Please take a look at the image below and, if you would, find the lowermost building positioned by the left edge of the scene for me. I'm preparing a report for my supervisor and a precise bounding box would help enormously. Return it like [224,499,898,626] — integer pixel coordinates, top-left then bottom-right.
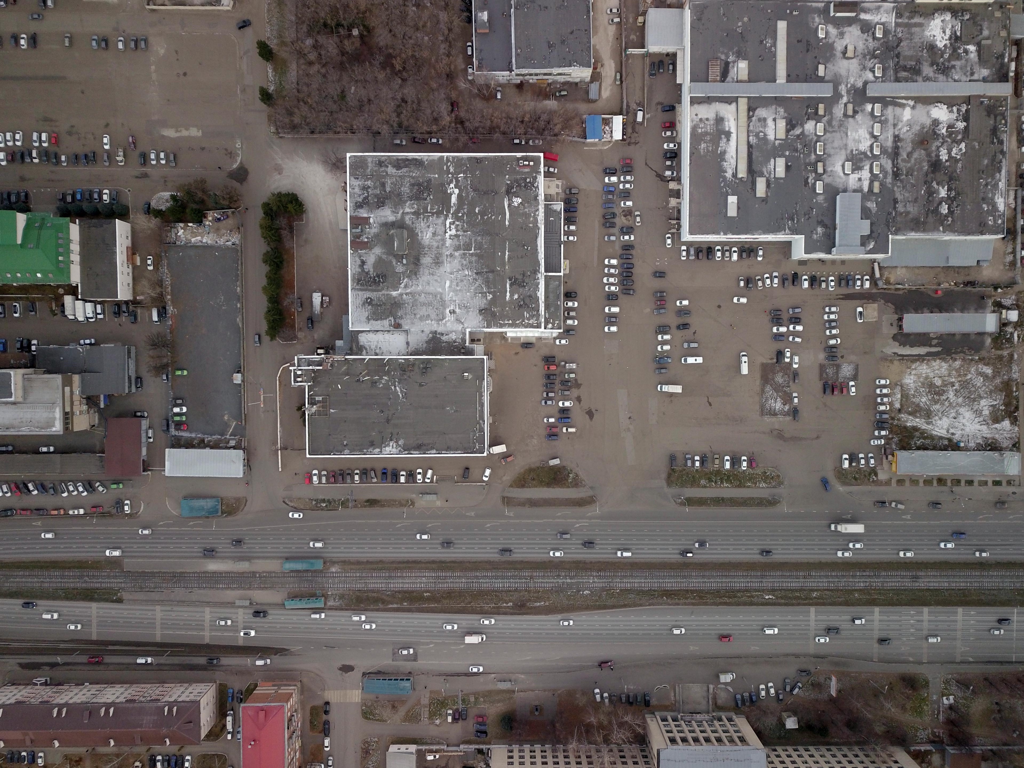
[0,684,218,749]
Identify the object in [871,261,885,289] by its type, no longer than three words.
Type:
vehicle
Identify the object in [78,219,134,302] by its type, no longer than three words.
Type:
building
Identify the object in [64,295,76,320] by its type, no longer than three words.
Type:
vehicle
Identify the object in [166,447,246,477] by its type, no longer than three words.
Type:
shed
